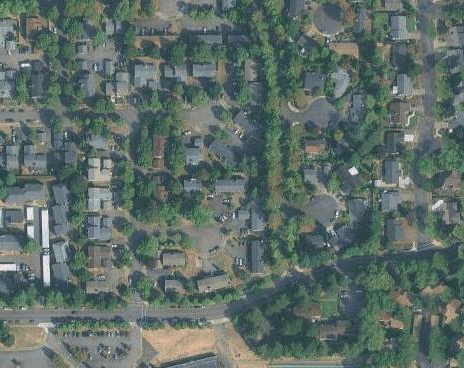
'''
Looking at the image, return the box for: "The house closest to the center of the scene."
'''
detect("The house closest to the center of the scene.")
[214,179,247,192]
